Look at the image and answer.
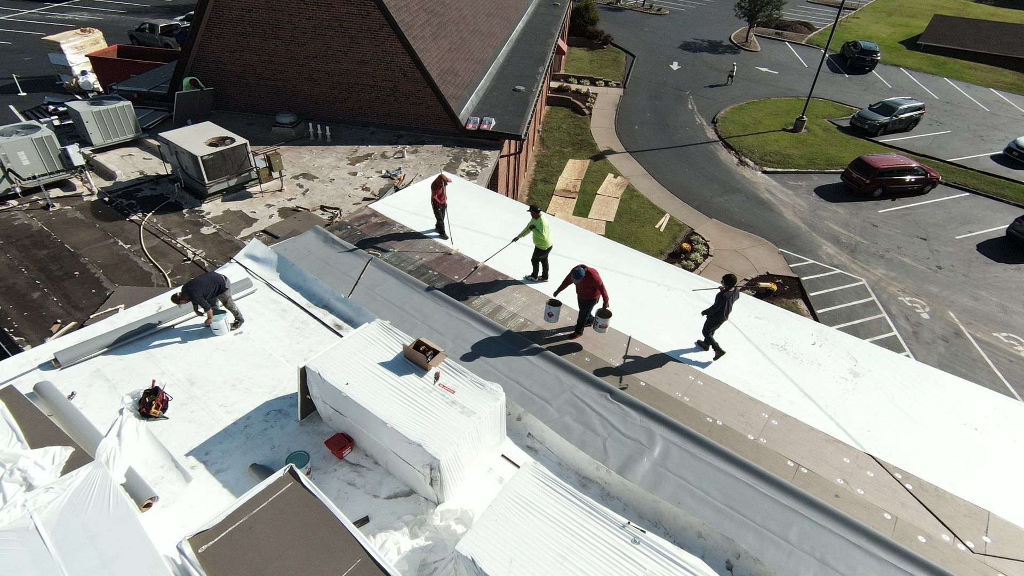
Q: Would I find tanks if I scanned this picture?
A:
No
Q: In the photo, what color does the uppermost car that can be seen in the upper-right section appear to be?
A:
black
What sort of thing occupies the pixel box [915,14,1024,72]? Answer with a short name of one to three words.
shed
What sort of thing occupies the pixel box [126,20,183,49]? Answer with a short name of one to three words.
truck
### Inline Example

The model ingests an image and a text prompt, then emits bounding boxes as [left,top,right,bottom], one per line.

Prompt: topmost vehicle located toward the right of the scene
[842,43,880,68]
